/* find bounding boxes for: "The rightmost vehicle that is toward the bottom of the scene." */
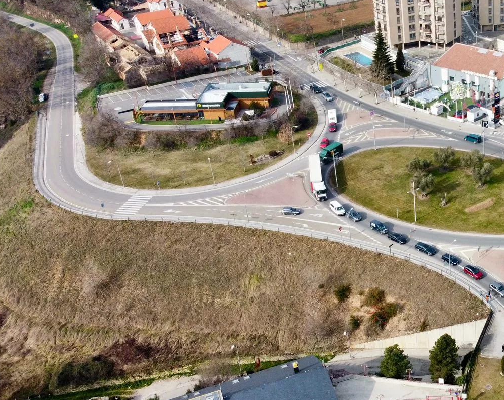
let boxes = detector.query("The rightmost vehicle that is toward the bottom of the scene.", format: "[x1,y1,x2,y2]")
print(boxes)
[488,277,504,295]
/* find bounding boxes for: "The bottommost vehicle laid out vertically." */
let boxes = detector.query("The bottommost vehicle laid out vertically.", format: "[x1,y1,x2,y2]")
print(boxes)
[306,157,323,191]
